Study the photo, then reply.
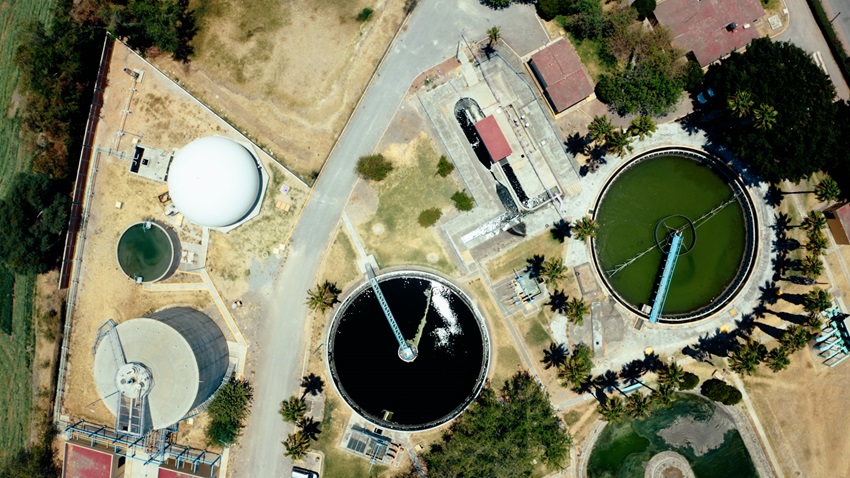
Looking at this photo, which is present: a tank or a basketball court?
tank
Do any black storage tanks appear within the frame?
Yes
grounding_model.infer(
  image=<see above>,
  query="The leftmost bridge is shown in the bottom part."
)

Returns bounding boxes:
[363,261,411,354]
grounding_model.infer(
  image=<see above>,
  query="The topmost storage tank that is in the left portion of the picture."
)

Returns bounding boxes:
[115,222,183,285]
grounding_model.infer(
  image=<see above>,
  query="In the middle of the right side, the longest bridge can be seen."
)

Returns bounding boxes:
[649,232,686,324]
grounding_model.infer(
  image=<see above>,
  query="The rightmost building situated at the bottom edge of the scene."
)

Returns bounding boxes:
[340,412,409,472]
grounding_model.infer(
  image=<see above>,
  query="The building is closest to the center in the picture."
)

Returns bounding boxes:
[490,268,549,319]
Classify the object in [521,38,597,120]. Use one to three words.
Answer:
building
